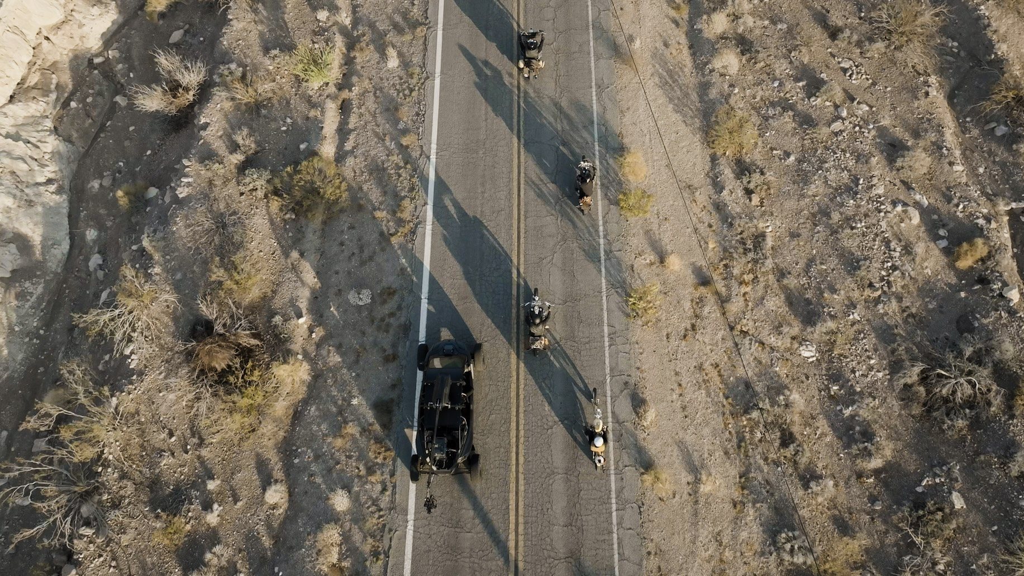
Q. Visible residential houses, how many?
zero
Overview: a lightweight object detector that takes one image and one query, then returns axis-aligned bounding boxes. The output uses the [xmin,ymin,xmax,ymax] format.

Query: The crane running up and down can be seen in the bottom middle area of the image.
[419,375,451,509]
